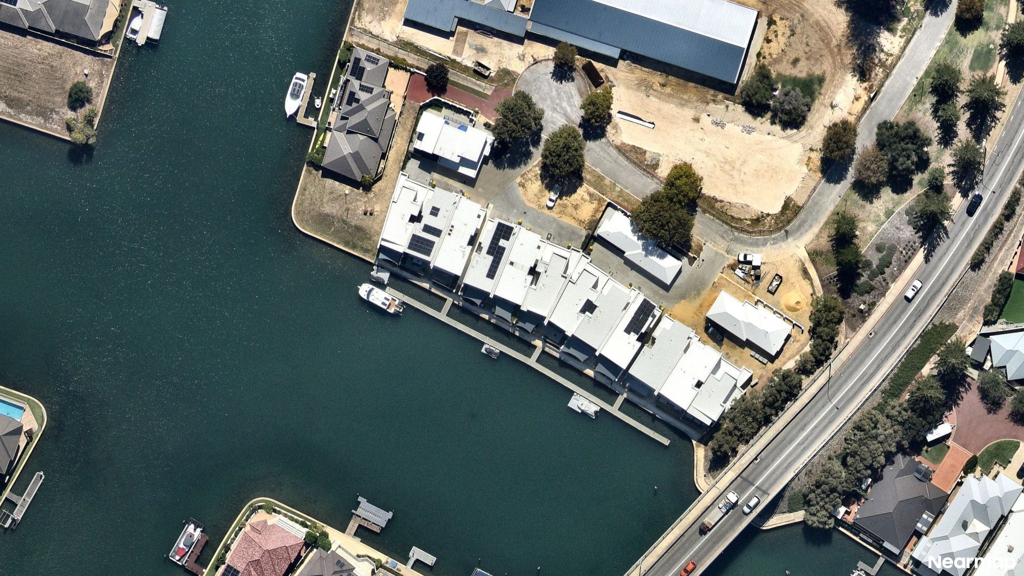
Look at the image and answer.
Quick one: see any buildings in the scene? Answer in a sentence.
Yes, a building appears in the view.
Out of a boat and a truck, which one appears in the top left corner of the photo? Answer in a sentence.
It is a boat that can be seen in the top left corner of the photo.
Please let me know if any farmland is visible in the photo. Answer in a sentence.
No, no farmland is visible.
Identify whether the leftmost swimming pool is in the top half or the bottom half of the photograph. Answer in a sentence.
The leftmost swimming pool sits in the bottom half of the picture.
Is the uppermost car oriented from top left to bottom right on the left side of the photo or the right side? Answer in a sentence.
The uppermost car oriented from top left to bottom right is on the right side of the image.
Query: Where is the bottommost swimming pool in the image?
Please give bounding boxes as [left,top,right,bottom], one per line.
[0,397,27,423]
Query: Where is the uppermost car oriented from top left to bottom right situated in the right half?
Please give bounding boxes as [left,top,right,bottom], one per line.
[704,323,727,345]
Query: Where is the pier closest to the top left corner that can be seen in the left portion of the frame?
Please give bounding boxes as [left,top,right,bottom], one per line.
[132,0,156,45]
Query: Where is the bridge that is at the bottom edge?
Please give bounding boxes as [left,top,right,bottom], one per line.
[625,462,781,576]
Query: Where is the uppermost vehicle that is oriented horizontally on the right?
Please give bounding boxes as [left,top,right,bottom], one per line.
[735,253,762,266]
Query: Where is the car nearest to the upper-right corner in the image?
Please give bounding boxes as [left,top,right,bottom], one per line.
[965,191,985,218]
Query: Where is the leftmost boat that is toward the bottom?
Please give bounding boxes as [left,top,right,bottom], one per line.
[177,520,200,555]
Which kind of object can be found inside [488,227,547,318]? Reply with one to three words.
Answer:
house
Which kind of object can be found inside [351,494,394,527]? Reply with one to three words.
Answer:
pier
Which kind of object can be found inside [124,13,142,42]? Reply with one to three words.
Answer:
boat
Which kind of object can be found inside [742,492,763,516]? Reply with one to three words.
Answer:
car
